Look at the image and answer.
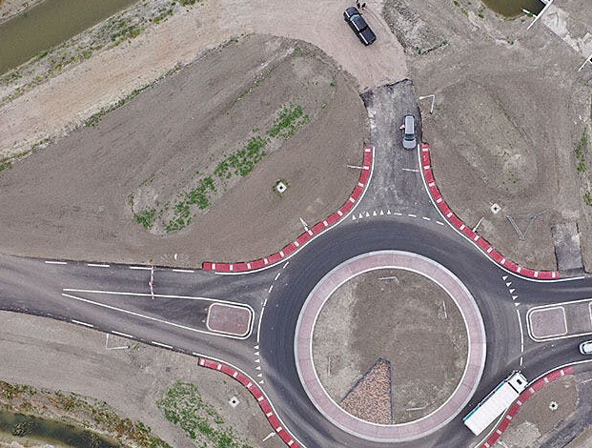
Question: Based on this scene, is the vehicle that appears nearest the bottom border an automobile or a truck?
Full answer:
The vehicle that appears nearest the bottom border in the image is a truck.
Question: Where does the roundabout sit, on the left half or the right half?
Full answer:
The roundabout sits on the right side.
